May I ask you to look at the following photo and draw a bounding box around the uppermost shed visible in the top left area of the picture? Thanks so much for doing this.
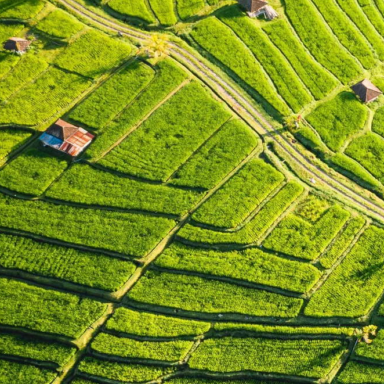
[0,39,36,57]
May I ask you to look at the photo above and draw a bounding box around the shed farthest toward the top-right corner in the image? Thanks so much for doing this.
[345,80,384,105]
